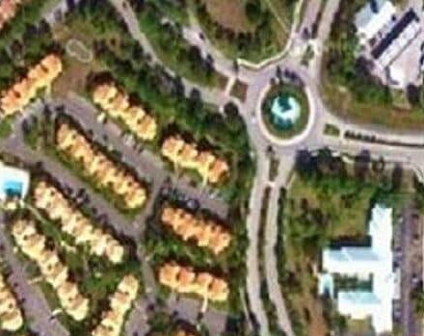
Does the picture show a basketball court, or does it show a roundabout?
roundabout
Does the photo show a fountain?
Yes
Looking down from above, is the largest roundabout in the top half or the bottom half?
top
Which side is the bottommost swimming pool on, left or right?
left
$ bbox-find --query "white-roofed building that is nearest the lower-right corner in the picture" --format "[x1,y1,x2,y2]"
[319,205,401,333]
